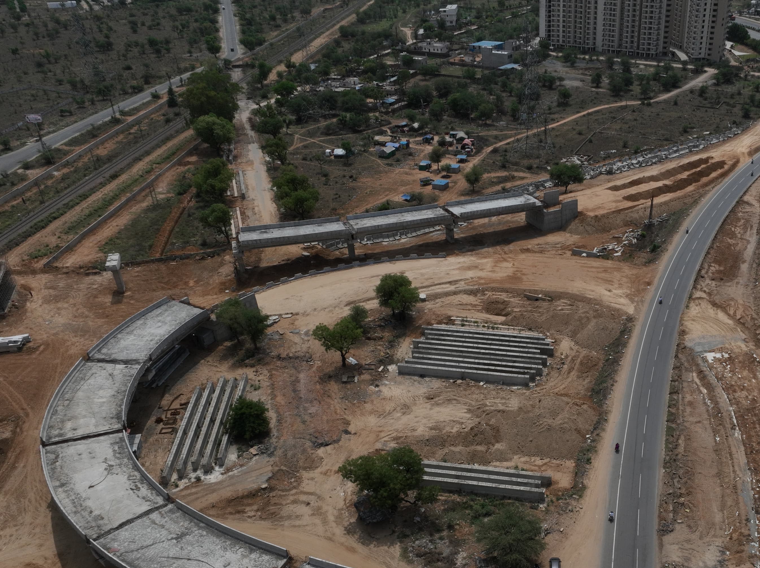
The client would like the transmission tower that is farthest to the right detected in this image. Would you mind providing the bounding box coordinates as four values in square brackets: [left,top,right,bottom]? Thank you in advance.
[512,30,554,165]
